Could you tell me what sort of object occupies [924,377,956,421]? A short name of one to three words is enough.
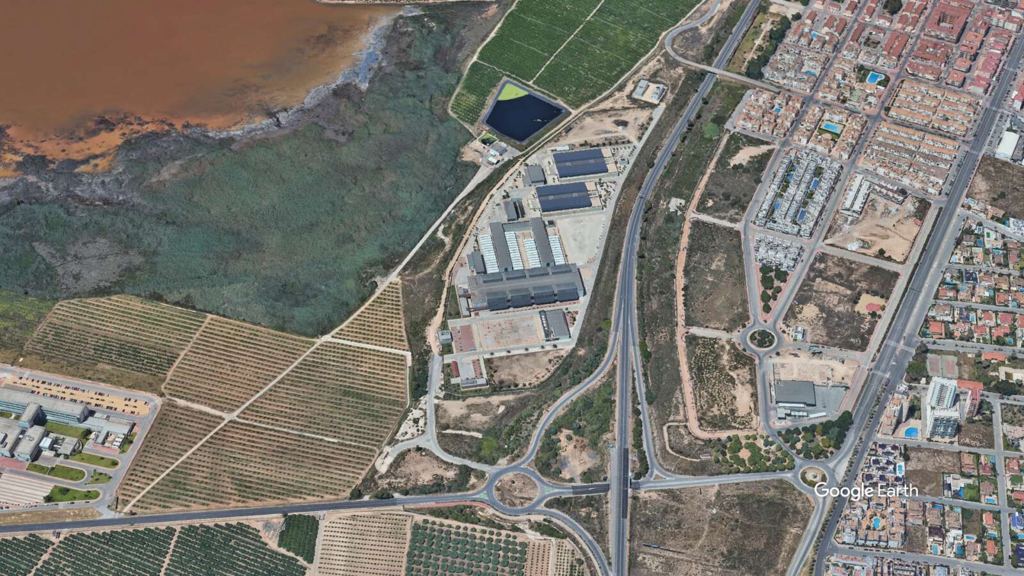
building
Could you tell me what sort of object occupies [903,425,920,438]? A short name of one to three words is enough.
swimming pool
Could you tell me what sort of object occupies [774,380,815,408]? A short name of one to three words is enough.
building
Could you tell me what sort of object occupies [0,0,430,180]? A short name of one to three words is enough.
pond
